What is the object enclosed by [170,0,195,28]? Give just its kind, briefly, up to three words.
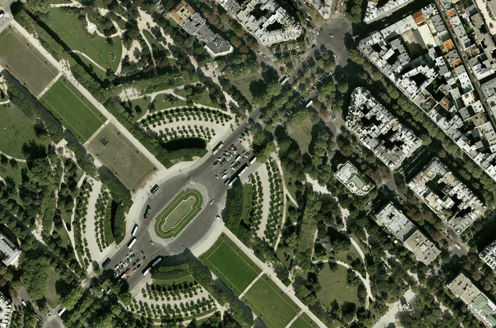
building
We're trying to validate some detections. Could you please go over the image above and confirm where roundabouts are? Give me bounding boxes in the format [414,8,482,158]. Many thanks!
[121,162,234,261]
